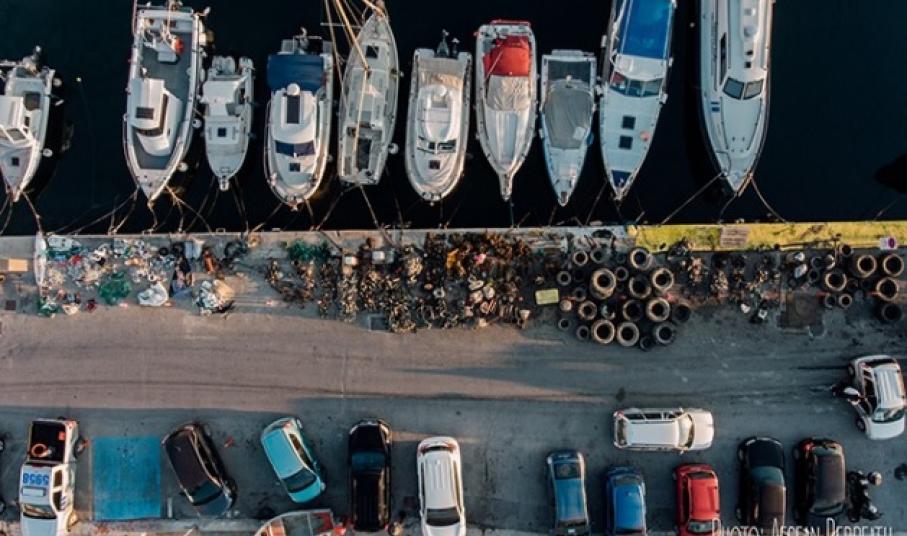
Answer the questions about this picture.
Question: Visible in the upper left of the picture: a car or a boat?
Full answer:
You can see a boat in the upper left of the picture.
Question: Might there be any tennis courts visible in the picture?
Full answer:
No, the frame has no tennis court in it.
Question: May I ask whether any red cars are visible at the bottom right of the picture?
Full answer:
Yes, a red car appears at the bottom right of the picture.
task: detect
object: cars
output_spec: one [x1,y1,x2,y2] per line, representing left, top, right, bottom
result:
[265,415,323,502]
[345,416,397,528]
[601,462,651,536]
[416,432,469,536]
[790,435,849,534]
[544,447,593,536]
[166,416,236,514]
[841,352,907,440]
[609,403,714,456]
[671,460,722,536]
[735,434,791,536]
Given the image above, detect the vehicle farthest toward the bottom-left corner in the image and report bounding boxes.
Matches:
[23,417,85,535]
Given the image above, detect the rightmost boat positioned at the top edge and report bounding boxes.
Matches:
[693,0,774,195]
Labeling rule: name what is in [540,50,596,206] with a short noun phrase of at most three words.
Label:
boat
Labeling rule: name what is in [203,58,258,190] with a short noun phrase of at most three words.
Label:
boat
